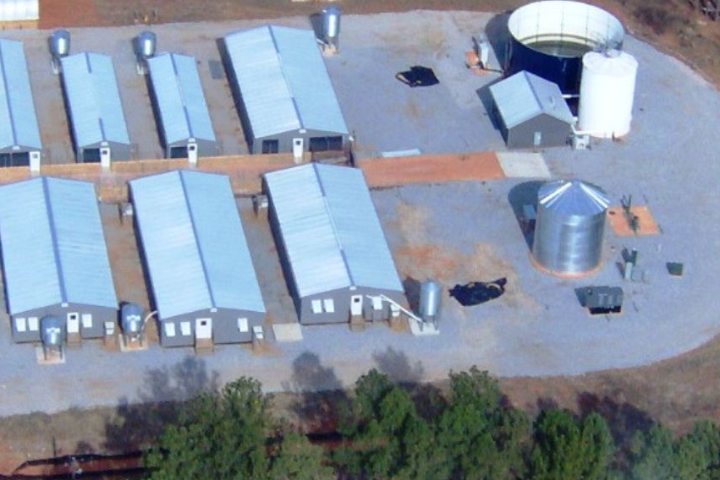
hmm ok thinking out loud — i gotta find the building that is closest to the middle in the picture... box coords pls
[263,163,405,333]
